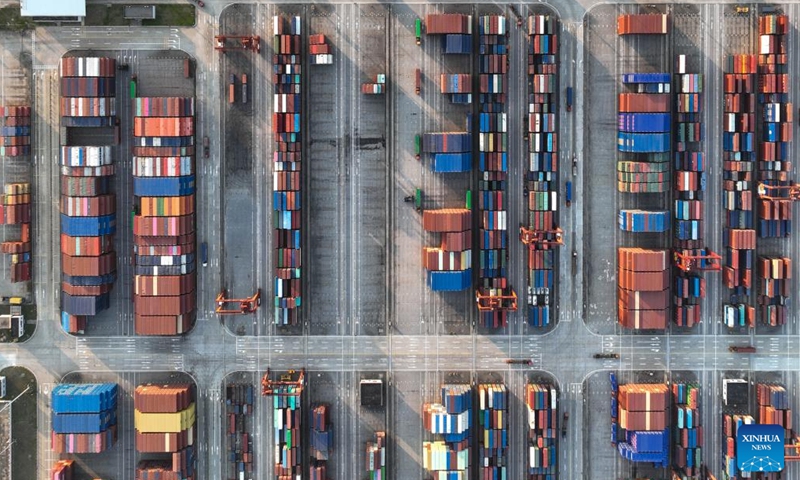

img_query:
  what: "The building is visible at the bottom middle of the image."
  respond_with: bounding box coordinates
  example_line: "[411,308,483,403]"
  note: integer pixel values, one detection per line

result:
[361,378,383,408]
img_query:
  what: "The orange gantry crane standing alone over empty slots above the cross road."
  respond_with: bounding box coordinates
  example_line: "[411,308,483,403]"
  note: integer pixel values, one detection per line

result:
[213,288,260,316]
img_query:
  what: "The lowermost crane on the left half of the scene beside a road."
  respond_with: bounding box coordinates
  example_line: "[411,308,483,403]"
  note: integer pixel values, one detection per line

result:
[261,364,306,397]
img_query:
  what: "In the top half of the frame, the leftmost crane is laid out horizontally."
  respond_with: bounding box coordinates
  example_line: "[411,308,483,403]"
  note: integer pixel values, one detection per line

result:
[213,35,260,56]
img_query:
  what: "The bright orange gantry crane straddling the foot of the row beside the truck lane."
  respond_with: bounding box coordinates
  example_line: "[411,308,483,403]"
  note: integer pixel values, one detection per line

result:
[474,284,518,311]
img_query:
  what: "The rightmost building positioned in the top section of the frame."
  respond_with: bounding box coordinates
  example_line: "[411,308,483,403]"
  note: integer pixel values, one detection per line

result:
[123,4,155,19]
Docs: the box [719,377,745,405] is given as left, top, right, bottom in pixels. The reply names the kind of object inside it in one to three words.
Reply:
building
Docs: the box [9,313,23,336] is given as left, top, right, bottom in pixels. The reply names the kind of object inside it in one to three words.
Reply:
building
